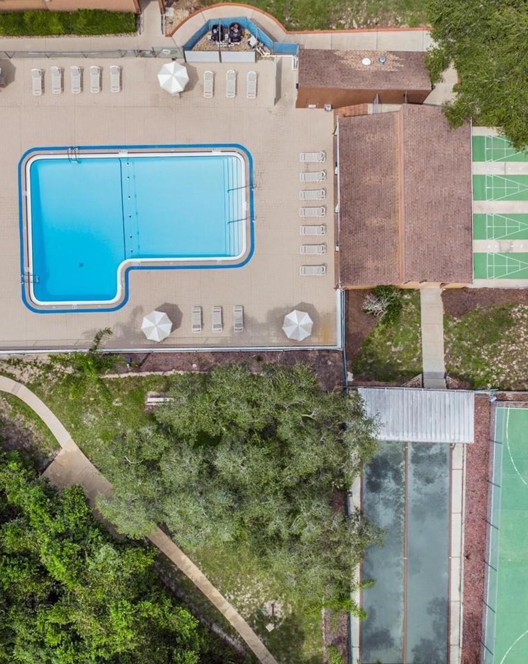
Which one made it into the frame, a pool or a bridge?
pool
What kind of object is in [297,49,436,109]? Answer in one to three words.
building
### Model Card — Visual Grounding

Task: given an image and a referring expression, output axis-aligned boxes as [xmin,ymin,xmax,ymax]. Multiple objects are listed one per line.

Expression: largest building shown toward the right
[329,105,474,290]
